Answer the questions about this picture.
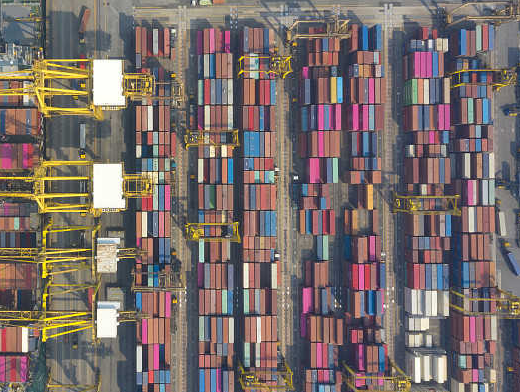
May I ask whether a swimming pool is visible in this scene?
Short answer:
No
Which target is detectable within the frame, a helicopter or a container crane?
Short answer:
container crane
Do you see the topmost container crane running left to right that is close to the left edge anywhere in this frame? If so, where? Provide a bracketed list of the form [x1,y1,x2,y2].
[0,59,153,127]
